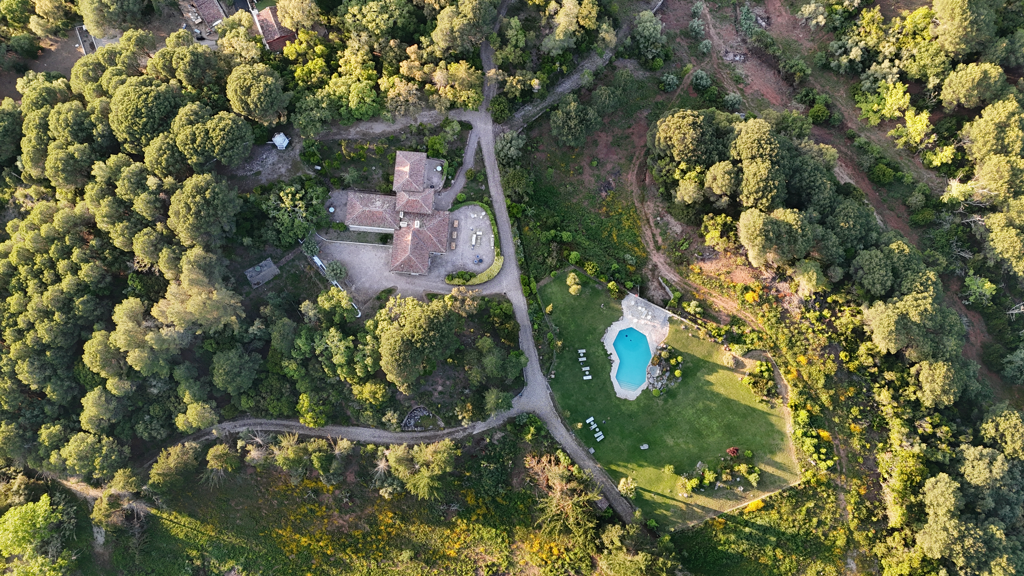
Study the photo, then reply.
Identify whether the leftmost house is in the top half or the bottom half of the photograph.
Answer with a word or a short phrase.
top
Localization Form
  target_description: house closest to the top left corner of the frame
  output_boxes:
[195,0,229,34]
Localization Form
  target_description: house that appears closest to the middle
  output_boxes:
[345,150,450,276]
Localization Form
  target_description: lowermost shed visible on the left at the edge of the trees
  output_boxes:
[244,258,282,290]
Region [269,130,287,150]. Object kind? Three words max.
gazebo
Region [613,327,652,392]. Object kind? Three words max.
swimming pool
